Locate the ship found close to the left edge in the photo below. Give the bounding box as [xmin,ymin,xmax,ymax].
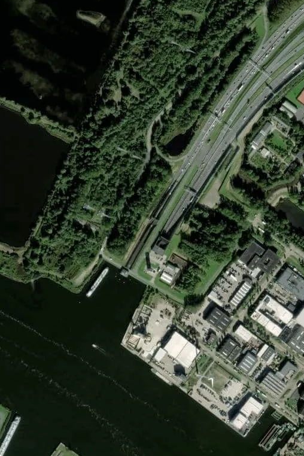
[0,415,21,456]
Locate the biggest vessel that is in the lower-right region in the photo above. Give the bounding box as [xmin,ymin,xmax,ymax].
[265,426,288,450]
